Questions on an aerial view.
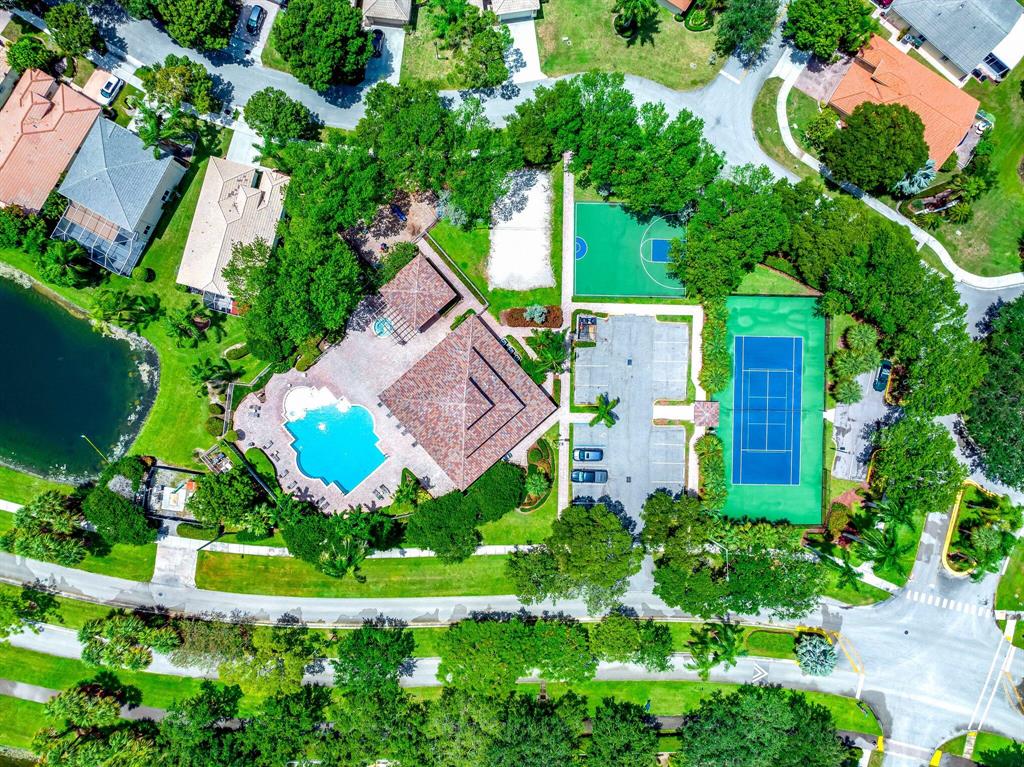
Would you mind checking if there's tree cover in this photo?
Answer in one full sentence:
Yes, tree cover shows up in the scene.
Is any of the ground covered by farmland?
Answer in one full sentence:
No, the picture contains no farmland.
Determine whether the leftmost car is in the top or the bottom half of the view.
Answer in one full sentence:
The leftmost car sits in the top half of the picture.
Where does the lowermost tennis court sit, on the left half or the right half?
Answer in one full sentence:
It is on the right.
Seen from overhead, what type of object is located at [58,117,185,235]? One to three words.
house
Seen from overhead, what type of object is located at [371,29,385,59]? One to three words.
car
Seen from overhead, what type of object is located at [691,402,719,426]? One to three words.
gazebo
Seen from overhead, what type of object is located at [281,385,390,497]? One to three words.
swimming pool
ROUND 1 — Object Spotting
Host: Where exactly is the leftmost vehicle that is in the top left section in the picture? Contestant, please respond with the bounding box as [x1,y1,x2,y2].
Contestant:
[98,76,123,105]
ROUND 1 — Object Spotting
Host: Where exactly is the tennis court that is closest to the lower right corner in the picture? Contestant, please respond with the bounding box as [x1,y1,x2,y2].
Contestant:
[720,296,826,524]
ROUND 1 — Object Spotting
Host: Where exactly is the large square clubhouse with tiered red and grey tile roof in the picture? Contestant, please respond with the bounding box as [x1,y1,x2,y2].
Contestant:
[378,313,557,491]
